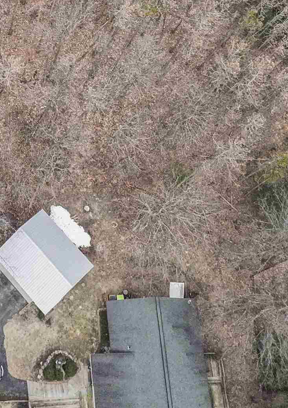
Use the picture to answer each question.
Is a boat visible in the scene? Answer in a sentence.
No, the frame has no boat in it.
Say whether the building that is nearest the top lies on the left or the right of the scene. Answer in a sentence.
The building that is nearest the top is on the left side of the image.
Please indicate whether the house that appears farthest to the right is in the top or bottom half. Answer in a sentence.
It is in the bottom half that the house that appears farthest to the right appears.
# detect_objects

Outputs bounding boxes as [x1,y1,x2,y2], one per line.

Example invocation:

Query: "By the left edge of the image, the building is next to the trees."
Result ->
[0,210,94,314]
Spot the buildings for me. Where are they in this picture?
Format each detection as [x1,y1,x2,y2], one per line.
[89,298,210,408]
[0,210,94,314]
